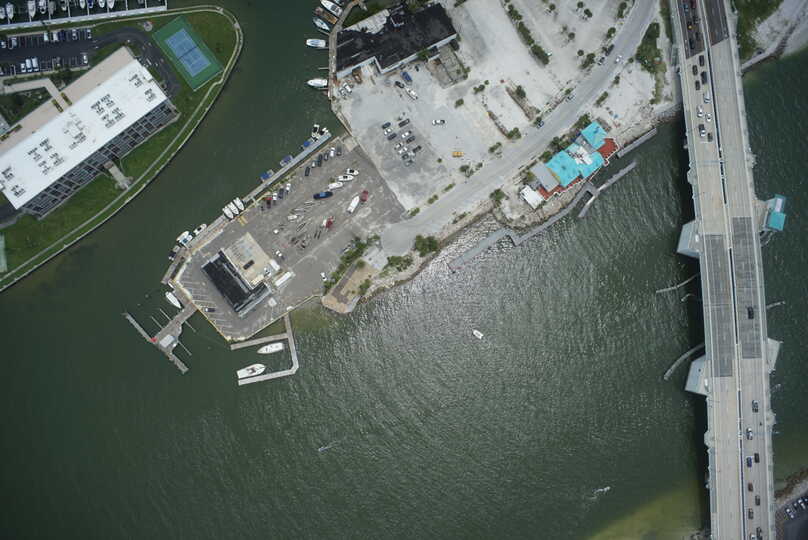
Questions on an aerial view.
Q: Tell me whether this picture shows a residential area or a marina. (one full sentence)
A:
This looks like a marina.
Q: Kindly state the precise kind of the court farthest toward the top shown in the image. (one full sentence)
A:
The court farthest toward the top in the image is a tennis court.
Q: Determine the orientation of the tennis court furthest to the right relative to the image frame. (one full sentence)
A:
What the image shows is the tennis court furthest to the right lying on a diagonal.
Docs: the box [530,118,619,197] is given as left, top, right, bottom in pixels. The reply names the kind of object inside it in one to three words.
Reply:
building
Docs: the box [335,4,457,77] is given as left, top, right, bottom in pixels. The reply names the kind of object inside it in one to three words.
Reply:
building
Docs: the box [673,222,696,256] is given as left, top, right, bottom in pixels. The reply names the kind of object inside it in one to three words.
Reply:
pier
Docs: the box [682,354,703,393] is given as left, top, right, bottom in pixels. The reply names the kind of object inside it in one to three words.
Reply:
pier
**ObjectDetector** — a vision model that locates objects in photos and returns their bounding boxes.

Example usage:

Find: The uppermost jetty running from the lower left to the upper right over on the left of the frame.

[240,133,331,206]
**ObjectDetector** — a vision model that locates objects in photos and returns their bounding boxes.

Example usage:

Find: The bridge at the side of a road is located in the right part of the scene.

[670,0,787,540]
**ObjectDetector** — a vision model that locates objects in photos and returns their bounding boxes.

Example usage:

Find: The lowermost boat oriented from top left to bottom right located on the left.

[164,291,181,307]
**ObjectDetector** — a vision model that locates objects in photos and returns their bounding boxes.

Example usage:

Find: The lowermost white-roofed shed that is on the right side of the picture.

[518,186,544,210]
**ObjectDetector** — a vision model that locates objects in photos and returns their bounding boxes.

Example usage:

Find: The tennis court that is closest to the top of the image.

[150,13,223,90]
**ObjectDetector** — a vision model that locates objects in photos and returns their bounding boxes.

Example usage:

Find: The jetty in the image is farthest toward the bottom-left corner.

[123,300,198,373]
